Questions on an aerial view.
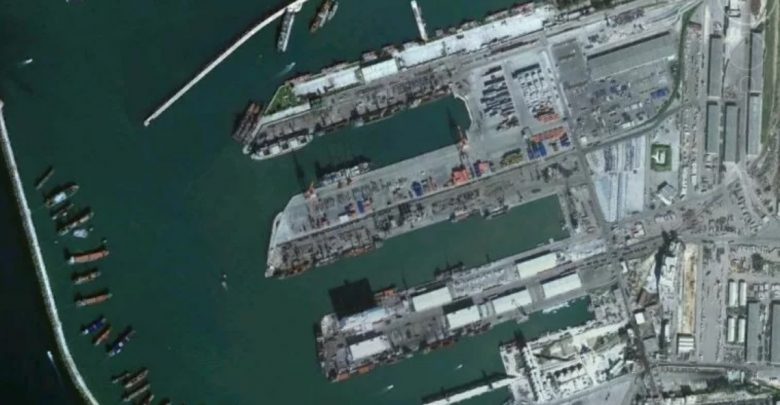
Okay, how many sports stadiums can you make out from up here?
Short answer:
none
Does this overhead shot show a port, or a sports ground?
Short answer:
port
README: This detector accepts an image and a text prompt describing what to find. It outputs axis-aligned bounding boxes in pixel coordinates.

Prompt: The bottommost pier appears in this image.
[404,372,508,405]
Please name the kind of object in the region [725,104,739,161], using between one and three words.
building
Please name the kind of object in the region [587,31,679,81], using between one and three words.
building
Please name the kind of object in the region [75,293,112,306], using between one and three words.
ship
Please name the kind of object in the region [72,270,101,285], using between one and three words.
ship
